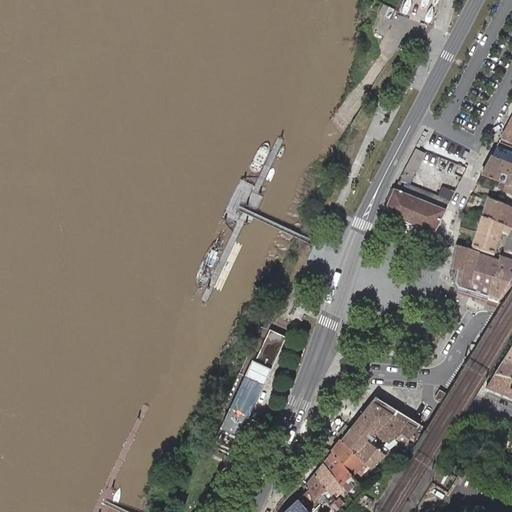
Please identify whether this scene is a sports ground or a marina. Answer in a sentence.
This image shows a marina.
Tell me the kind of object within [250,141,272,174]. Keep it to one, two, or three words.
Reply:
boat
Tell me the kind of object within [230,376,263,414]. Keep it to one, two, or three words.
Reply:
building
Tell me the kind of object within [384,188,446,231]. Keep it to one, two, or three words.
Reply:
house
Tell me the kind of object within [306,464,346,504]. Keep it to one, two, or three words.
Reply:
house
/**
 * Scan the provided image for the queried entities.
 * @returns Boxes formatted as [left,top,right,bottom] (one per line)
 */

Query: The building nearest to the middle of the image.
[256,330,284,368]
